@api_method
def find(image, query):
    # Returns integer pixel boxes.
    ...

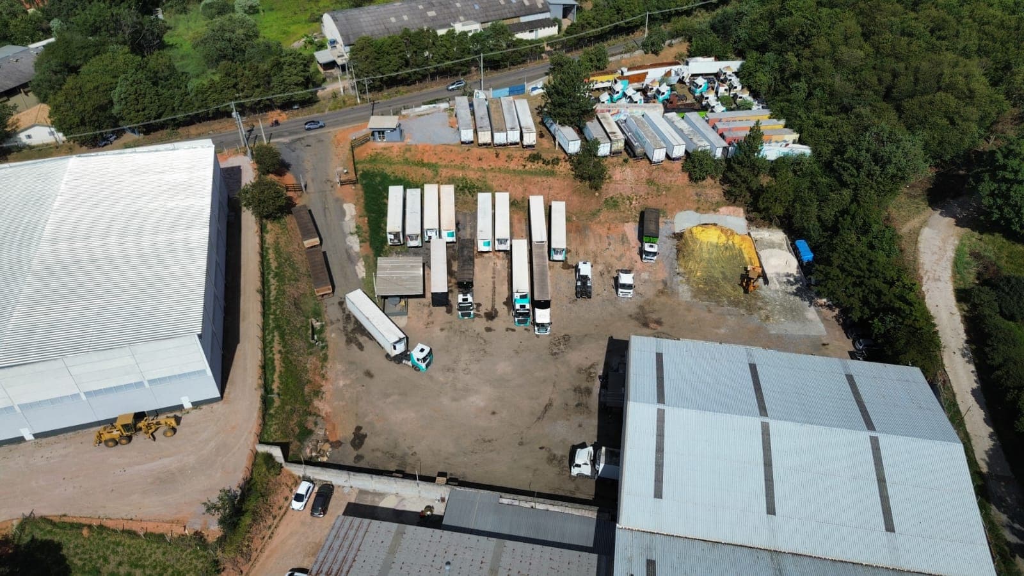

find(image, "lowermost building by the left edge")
[0,134,230,441]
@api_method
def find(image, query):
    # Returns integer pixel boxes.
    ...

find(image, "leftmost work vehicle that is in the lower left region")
[96,415,180,447]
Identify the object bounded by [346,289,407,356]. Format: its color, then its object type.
white trailer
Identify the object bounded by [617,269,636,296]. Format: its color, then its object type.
white vehicle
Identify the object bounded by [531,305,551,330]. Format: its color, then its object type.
white vehicle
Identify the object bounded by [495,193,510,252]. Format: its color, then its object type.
white trailer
